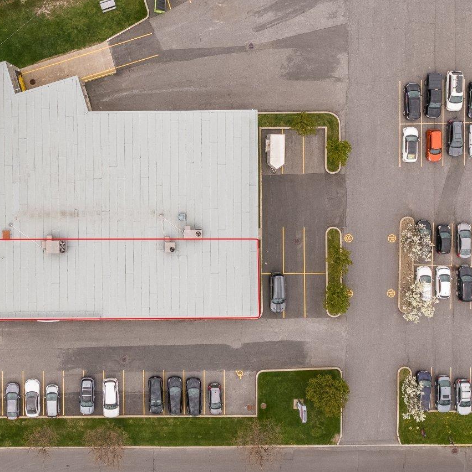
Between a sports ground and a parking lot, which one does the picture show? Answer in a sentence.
The area seen from above is a parking lot.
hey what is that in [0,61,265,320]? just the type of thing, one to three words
building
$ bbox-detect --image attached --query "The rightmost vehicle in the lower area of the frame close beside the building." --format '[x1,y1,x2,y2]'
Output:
[269,272,287,313]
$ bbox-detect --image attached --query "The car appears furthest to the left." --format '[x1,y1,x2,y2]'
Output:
[4,383,21,420]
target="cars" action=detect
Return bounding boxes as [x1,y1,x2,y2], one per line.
[436,224,453,254]
[101,378,120,418]
[208,382,224,415]
[445,72,465,111]
[424,130,444,162]
[4,383,21,420]
[269,272,287,313]
[445,120,465,156]
[434,266,453,299]
[453,378,472,415]
[415,219,434,251]
[186,376,202,417]
[147,375,165,414]
[167,375,184,416]
[466,82,472,119]
[45,384,60,418]
[23,377,42,418]
[403,83,423,121]
[454,264,472,303]
[454,222,472,258]
[435,374,452,413]
[401,127,421,162]
[78,376,97,415]
[415,370,434,413]
[416,266,434,301]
